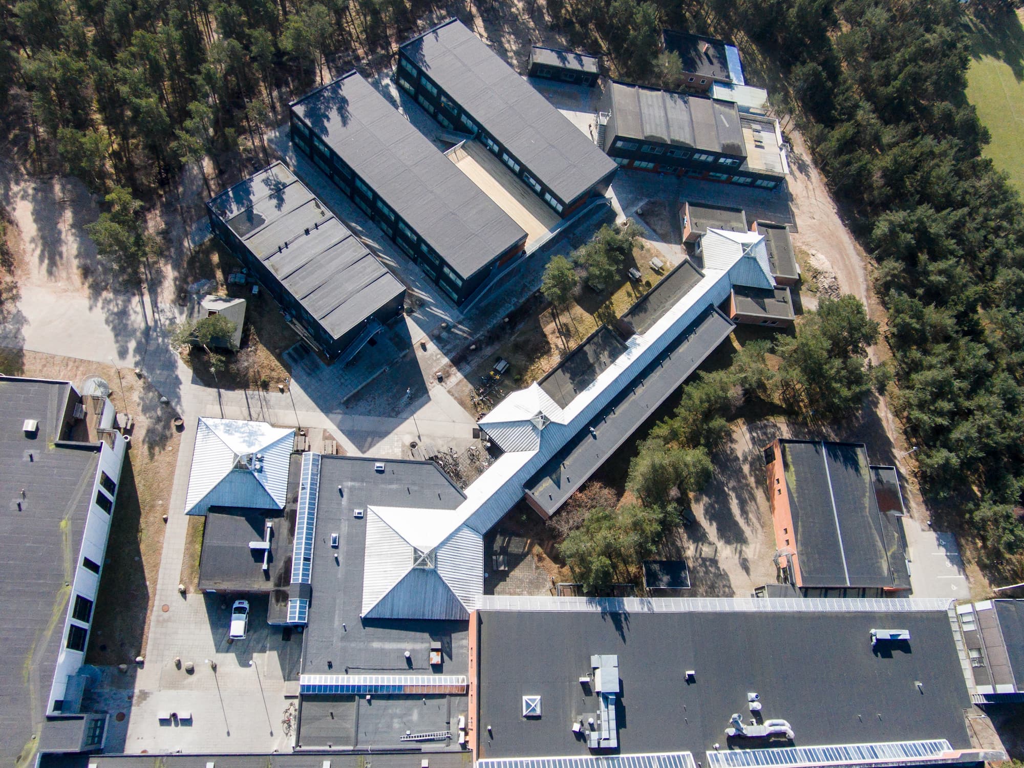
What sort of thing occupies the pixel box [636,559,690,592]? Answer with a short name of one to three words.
shed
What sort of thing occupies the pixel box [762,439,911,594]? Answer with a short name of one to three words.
building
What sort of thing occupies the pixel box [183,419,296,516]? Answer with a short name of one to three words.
building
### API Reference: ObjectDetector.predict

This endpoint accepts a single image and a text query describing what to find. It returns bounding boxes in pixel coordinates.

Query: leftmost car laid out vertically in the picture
[230,600,249,640]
